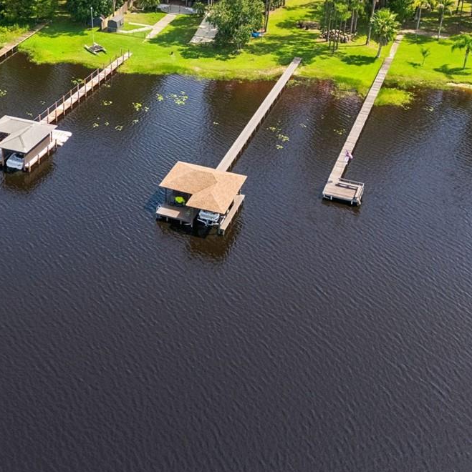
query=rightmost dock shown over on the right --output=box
[322,53,398,211]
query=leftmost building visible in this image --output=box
[0,114,65,177]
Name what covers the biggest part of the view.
water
